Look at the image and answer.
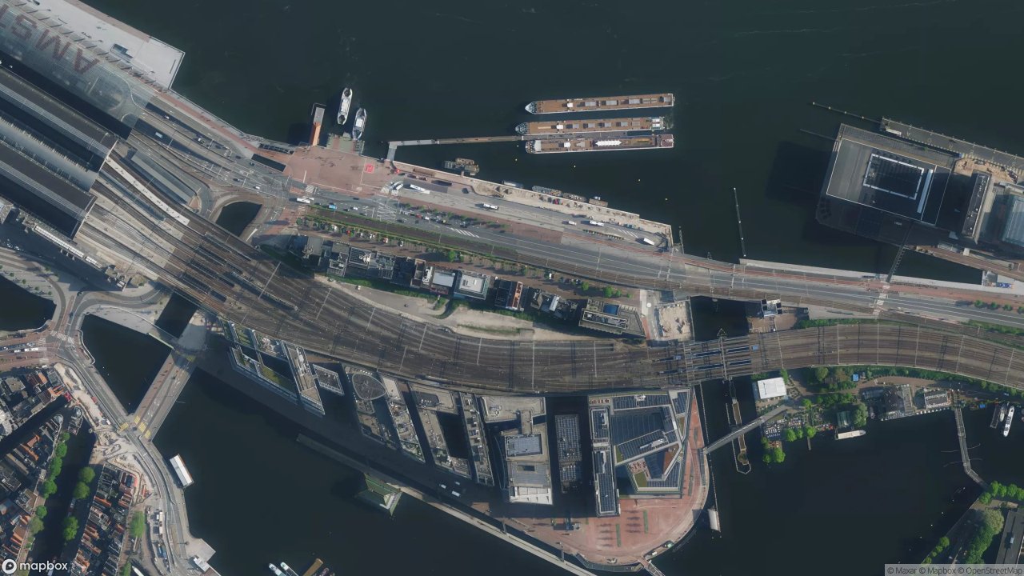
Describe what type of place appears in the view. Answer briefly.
port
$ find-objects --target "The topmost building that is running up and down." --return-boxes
[310,109,326,149]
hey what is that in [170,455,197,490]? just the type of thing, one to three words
house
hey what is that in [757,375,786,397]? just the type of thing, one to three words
building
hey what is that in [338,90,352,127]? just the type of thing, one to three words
ship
